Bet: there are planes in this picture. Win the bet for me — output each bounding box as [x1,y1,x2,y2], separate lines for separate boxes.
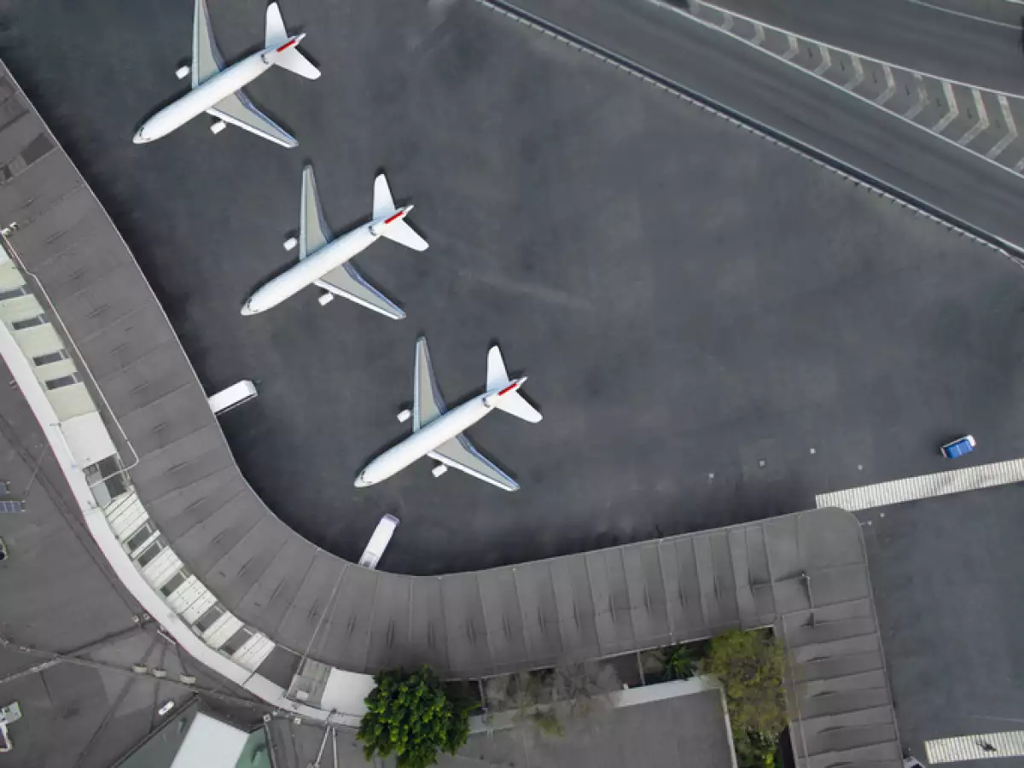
[241,163,431,320]
[133,0,322,149]
[355,334,545,491]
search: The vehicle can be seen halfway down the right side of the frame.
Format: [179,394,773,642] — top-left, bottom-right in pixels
[938,436,976,460]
